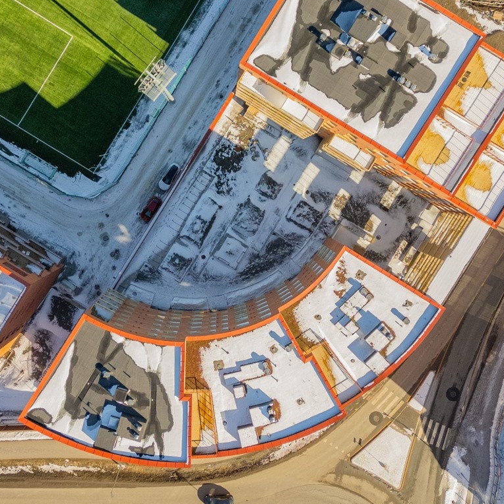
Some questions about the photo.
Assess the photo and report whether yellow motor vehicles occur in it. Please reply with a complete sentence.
No, the photo shows no yellow motor vehicle.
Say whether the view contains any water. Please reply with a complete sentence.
No, water can't be seen anywhere here.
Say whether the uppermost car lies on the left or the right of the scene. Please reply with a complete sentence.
The uppermost car is on the left side of the image.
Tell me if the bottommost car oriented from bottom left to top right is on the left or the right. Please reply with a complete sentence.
You can find the bottommost car oriented from bottom left to top right on the left side of the picture.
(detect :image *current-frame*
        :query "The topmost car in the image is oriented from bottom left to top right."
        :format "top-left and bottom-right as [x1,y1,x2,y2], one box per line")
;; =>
[158,163,181,194]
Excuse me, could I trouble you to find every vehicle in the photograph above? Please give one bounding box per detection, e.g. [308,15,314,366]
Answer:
[140,196,163,225]
[204,492,235,504]
[158,163,181,194]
